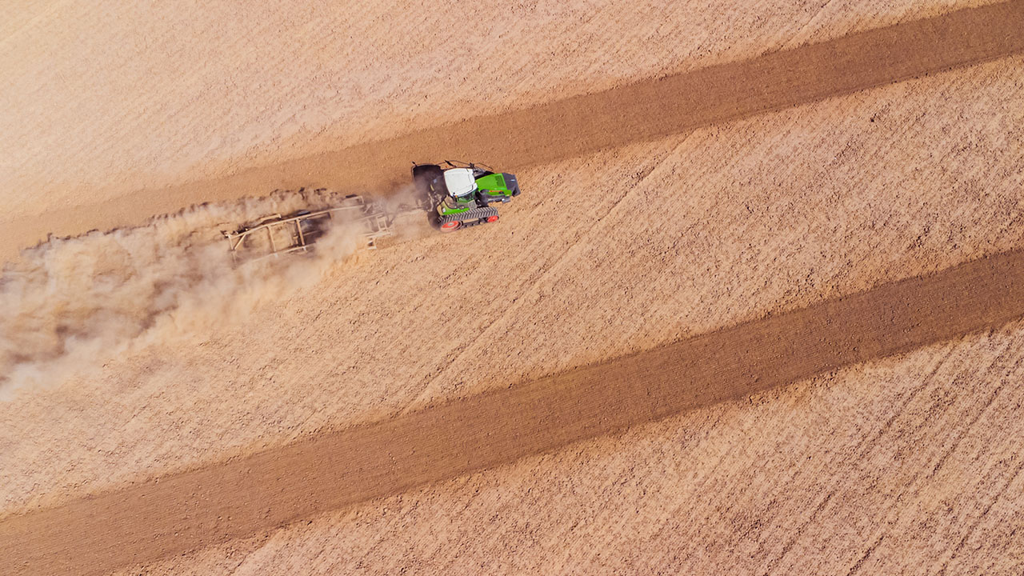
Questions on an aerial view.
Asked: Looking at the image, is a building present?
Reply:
No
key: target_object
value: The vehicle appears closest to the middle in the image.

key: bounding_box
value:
[414,164,519,233]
